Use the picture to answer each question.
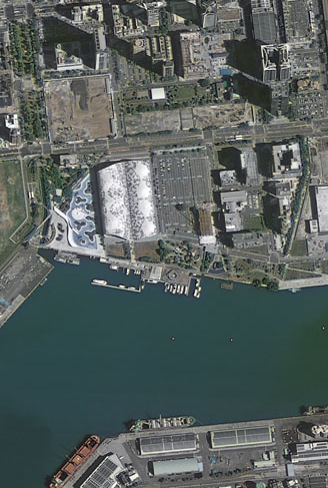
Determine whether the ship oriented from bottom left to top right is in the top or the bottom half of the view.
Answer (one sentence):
Seen from above, the ship oriented from bottom left to top right lies in the bottom half of the view.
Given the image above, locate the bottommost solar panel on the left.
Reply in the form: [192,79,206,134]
[83,459,122,488]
